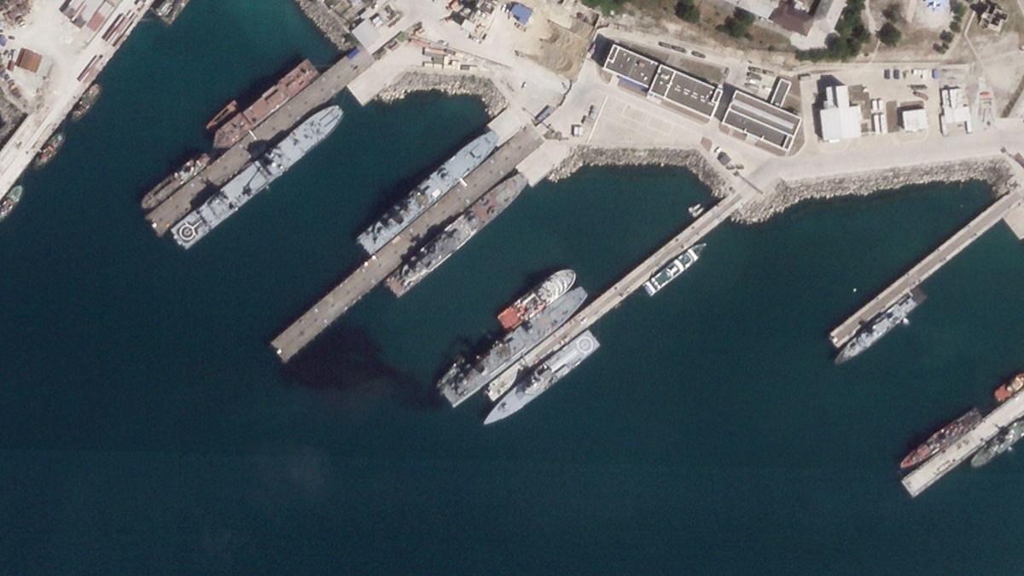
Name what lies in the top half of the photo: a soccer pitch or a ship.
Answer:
ship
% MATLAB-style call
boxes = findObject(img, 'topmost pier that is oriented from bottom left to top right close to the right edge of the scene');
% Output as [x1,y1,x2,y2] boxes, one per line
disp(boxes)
[830,182,1024,348]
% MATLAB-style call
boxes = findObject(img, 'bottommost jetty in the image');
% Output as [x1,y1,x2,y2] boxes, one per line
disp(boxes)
[902,391,1024,498]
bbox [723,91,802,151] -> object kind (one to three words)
building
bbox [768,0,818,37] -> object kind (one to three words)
house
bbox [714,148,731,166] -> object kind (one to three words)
vehicle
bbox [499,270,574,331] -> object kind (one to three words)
ship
